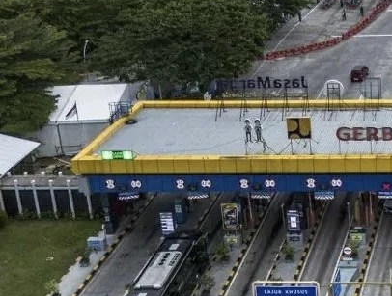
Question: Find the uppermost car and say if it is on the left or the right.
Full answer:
The uppermost car appears in the right half of the scene.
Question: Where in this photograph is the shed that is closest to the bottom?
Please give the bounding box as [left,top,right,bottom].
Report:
[0,131,35,186]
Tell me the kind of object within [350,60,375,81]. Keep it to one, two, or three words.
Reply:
car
